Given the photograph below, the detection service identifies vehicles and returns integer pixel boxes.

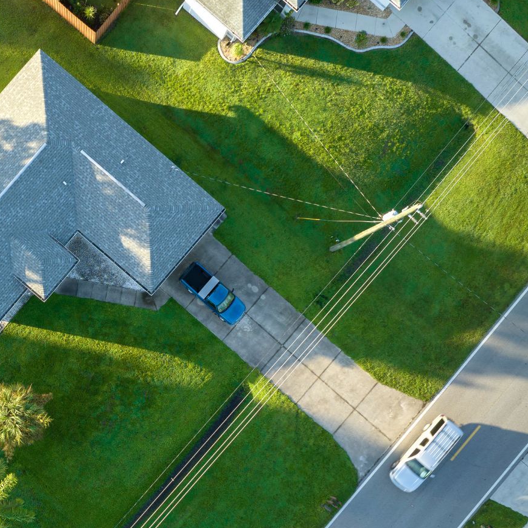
[390,415,464,489]
[177,260,245,325]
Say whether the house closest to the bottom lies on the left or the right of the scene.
left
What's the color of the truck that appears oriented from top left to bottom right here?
blue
